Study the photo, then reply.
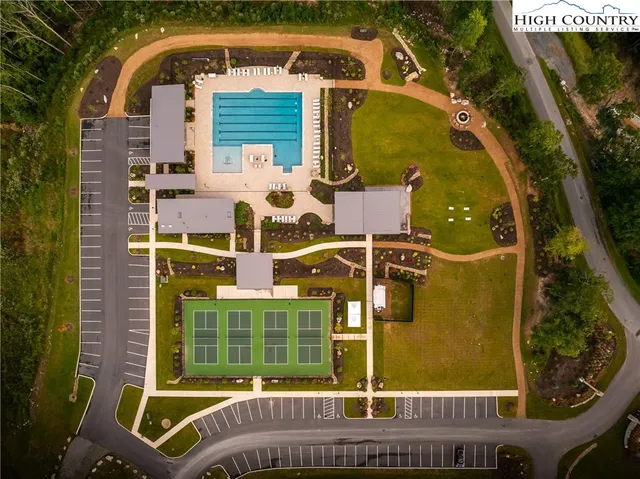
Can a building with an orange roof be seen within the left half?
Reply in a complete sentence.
No, no building with an orange roof is visible within the left half.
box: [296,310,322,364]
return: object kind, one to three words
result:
sports court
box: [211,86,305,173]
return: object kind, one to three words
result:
swimming pool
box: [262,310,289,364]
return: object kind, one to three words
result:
sports court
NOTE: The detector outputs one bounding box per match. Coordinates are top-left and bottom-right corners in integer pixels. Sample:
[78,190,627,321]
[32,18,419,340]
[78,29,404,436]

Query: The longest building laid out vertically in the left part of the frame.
[151,84,187,164]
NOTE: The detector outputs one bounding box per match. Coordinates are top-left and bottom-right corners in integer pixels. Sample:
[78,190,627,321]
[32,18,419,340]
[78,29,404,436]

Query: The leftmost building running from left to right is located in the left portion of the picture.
[157,198,236,233]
